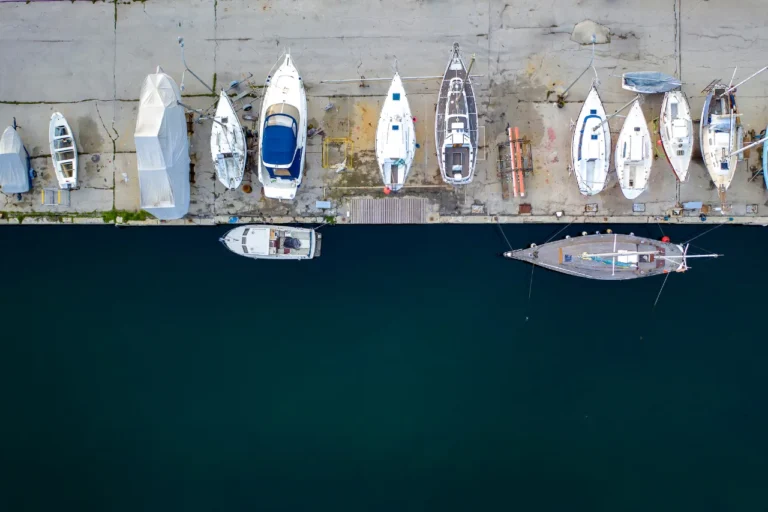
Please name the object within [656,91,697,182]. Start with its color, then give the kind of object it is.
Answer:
white boat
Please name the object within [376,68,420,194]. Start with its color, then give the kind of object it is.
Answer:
white boat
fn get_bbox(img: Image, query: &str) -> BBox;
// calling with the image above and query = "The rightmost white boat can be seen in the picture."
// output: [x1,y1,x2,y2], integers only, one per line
[698,65,768,214]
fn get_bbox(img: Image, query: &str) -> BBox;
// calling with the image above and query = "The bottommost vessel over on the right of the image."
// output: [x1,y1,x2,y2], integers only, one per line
[497,218,722,312]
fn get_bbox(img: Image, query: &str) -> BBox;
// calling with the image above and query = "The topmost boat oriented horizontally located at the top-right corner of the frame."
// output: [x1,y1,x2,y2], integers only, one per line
[614,73,683,94]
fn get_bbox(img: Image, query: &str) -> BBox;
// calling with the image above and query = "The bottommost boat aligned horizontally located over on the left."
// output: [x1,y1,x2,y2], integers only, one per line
[216,220,328,261]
